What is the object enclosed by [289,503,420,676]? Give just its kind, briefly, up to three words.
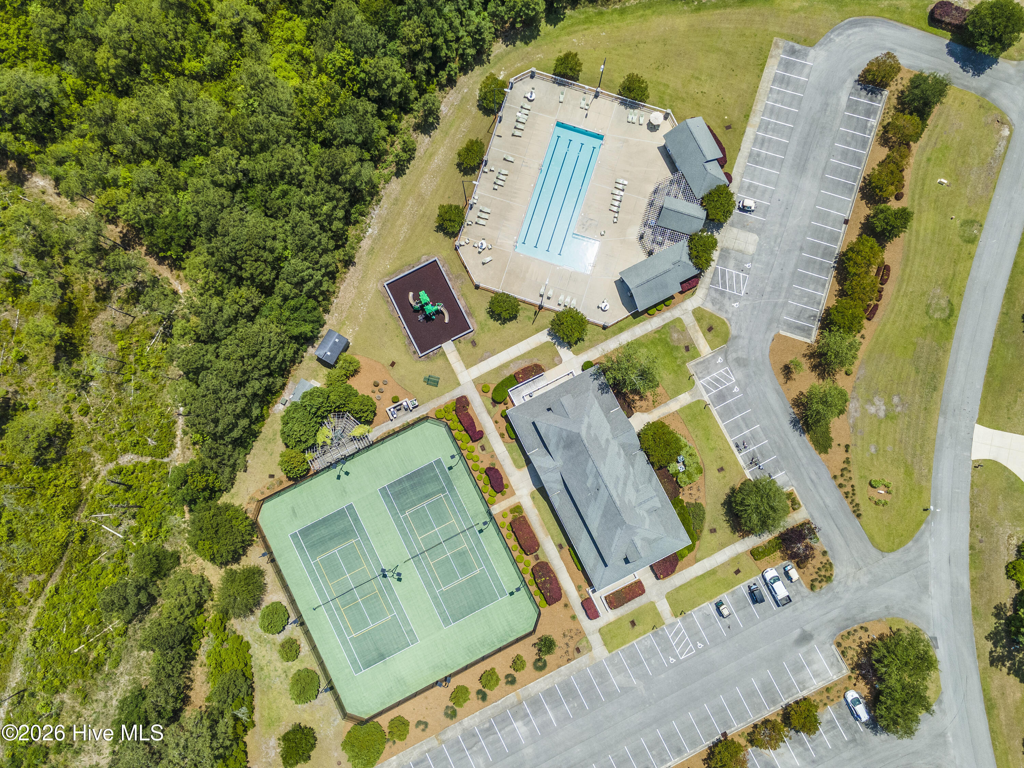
tennis court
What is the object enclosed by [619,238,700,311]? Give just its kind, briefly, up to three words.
building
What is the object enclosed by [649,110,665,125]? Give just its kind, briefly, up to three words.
umbrella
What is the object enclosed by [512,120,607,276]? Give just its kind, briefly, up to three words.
swimming pool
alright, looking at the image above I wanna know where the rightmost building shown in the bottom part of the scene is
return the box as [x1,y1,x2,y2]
[505,365,692,592]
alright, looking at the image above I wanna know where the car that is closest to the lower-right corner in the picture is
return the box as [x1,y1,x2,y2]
[844,688,869,724]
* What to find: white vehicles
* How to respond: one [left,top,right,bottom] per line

[738,201,756,213]
[715,600,732,618]
[762,567,793,608]
[783,565,800,582]
[844,688,869,724]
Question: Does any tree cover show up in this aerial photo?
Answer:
Yes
